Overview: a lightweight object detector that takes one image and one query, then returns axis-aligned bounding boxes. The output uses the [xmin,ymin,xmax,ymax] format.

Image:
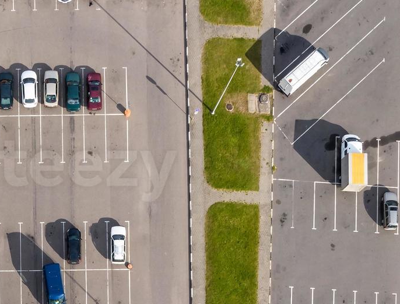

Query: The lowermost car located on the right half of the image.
[381,192,400,230]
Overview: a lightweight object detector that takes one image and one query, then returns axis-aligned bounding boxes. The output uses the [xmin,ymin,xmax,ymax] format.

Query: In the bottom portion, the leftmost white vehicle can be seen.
[109,227,127,264]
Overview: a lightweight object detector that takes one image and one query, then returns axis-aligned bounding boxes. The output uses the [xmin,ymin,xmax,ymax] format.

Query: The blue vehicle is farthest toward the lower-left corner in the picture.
[44,263,68,304]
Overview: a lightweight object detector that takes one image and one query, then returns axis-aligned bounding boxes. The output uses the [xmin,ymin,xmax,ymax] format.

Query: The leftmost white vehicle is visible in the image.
[20,72,38,108]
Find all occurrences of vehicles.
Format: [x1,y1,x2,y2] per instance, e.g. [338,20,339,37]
[339,141,366,198]
[65,228,84,265]
[279,49,327,95]
[0,73,15,110]
[381,192,400,230]
[65,73,83,112]
[44,263,68,304]
[86,74,104,111]
[42,72,60,108]
[20,72,38,108]
[109,227,127,264]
